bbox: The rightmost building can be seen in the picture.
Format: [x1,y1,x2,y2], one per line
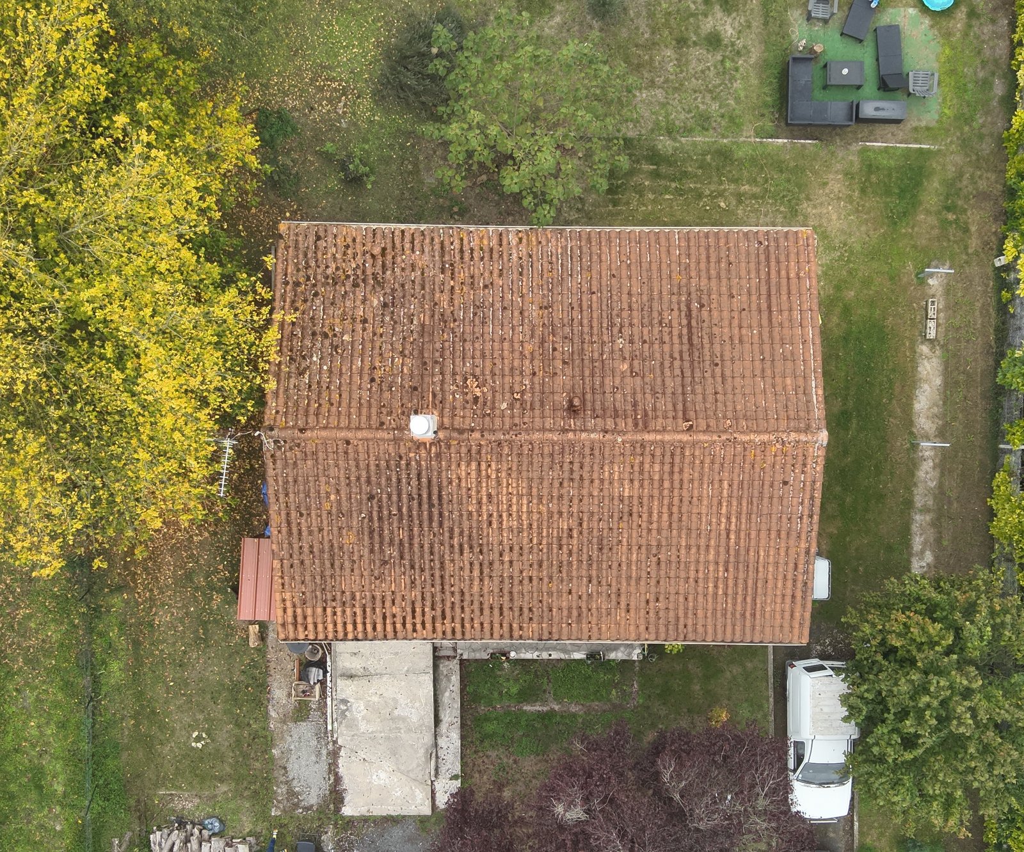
[264,221,832,648]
